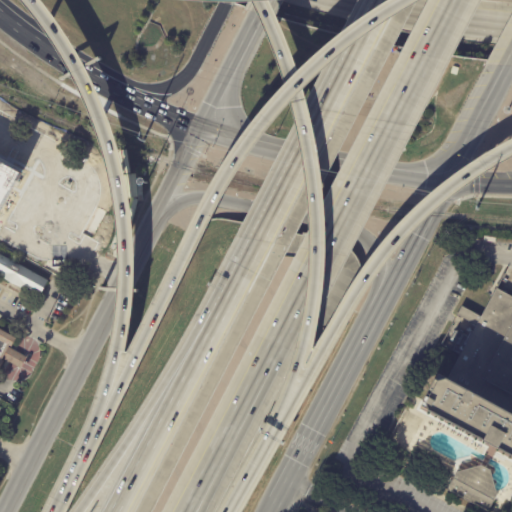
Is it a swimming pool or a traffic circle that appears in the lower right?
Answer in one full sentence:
It is a swimming pool that can be seen in the lower right.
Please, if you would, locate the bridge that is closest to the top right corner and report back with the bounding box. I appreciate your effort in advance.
[485,18,512,64]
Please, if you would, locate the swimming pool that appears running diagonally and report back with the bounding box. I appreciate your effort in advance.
[430,433,509,492]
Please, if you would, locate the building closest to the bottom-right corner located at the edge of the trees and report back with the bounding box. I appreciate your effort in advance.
[450,464,498,506]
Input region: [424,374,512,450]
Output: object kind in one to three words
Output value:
building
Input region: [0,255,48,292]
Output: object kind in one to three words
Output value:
building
